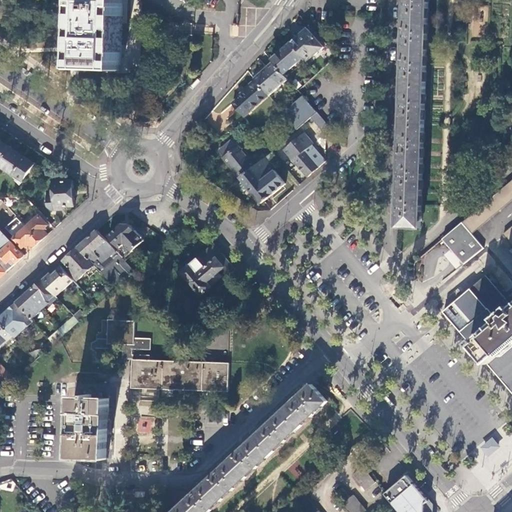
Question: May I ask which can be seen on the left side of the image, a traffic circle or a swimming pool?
traffic circle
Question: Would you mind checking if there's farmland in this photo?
No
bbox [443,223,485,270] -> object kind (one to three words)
building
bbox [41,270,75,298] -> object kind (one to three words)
house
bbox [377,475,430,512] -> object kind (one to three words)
building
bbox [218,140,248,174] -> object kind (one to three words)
house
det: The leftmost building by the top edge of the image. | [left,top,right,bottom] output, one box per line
[56,0,125,72]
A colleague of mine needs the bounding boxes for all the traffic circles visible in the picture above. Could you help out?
[112,139,169,196]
